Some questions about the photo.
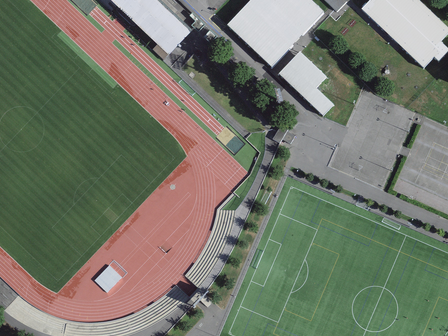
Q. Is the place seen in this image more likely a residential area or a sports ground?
sports ground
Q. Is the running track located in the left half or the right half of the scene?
left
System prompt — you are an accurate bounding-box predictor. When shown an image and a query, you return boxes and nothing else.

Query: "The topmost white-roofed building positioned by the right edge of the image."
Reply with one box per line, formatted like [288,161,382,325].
[362,0,448,68]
